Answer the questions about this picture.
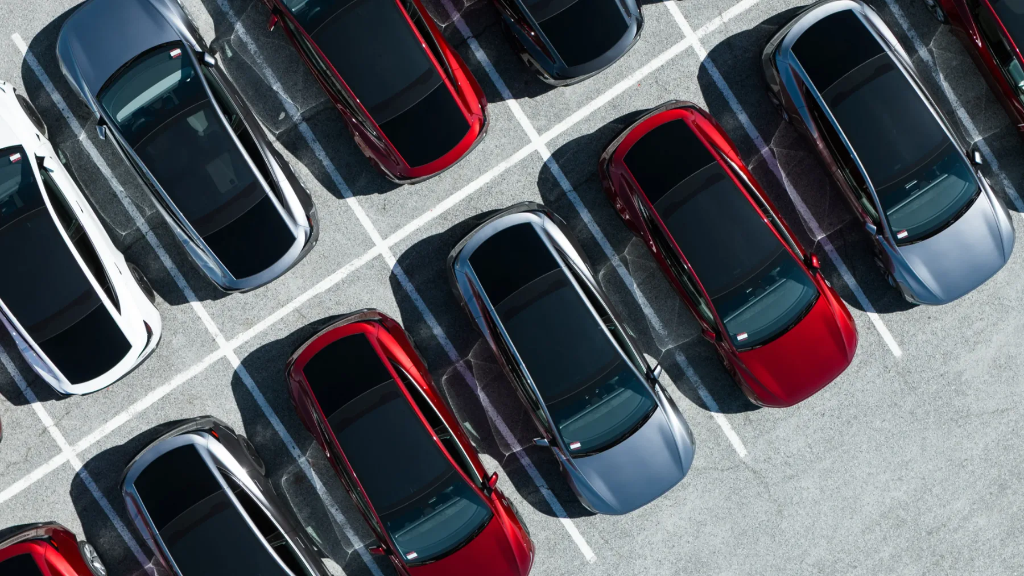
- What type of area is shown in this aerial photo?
parking lot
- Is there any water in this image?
No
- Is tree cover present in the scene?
No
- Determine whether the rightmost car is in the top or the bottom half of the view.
top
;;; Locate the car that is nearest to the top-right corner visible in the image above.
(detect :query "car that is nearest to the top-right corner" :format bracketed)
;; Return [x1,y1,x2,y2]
[925,0,1024,154]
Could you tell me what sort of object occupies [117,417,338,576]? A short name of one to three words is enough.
car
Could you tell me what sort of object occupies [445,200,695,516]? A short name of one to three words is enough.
car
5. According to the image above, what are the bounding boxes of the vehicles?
[259,0,492,188]
[117,417,338,576]
[486,0,648,89]
[761,0,1017,306]
[445,200,695,516]
[54,0,322,296]
[281,308,533,576]
[925,0,1024,154]
[0,84,162,400]
[597,98,859,408]
[0,522,110,576]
